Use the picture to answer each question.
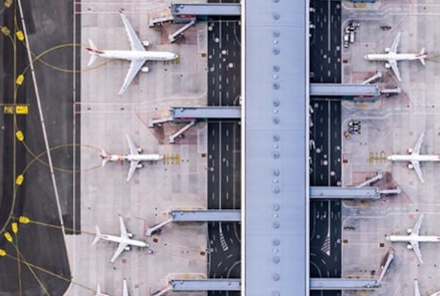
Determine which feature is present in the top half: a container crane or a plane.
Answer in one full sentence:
It is a plane that can be seen in the top half.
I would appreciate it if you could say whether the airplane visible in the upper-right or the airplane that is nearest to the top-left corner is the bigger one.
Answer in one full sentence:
The airplane that is nearest to the top-left corner takes up more space than the airplane visible in the upper-right.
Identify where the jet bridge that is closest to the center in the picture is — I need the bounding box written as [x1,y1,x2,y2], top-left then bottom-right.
[168,120,196,144]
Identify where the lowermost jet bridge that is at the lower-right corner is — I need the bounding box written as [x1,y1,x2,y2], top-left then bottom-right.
[377,251,394,284]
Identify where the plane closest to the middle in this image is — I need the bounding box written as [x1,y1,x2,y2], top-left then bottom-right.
[101,132,163,184]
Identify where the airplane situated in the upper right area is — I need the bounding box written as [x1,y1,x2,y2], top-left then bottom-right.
[364,28,429,81]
